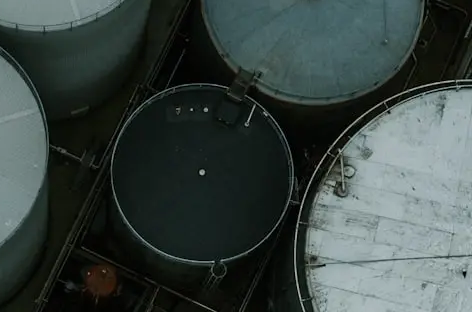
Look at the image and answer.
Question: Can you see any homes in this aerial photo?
No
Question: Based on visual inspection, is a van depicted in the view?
No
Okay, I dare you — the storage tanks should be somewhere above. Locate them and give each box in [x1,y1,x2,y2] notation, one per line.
[0,44,49,307]
[281,80,472,312]
[0,0,149,121]
[102,82,297,293]
[187,0,425,144]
